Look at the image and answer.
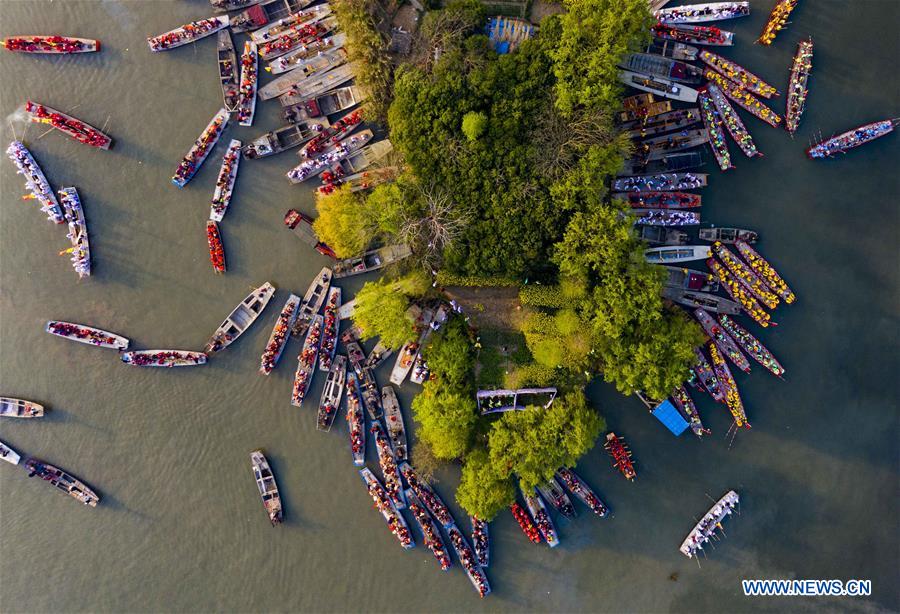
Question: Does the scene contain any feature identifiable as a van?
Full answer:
No, no van is visible in the scene.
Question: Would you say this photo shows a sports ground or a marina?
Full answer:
The area seen from above is a marina.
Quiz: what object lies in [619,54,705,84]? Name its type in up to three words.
boat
